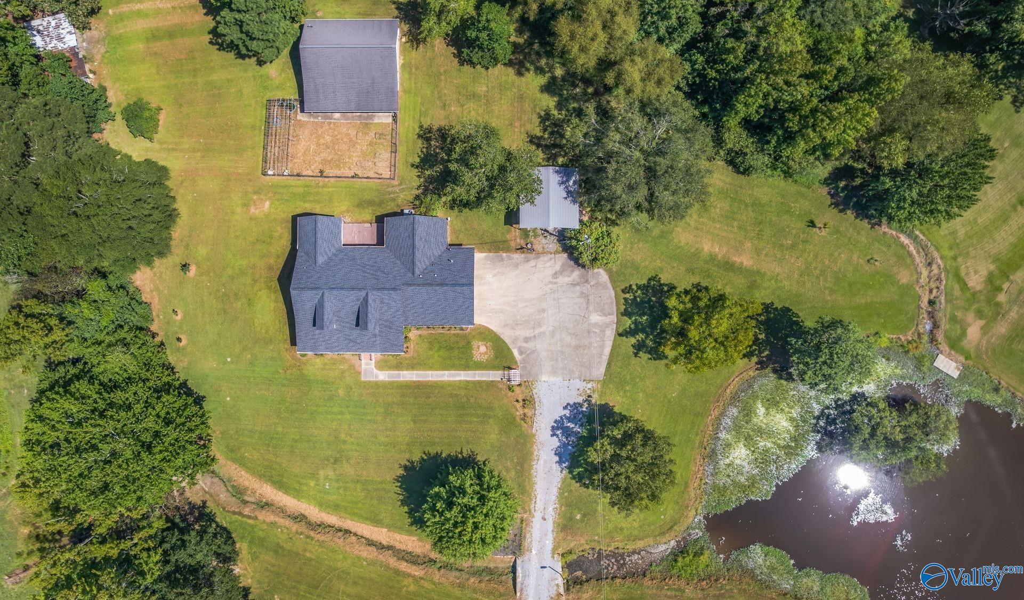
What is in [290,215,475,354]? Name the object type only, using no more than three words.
house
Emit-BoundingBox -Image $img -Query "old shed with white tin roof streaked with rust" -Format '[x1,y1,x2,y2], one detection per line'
[24,15,91,62]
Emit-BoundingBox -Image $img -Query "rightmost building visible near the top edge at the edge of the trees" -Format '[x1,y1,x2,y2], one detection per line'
[299,17,400,117]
